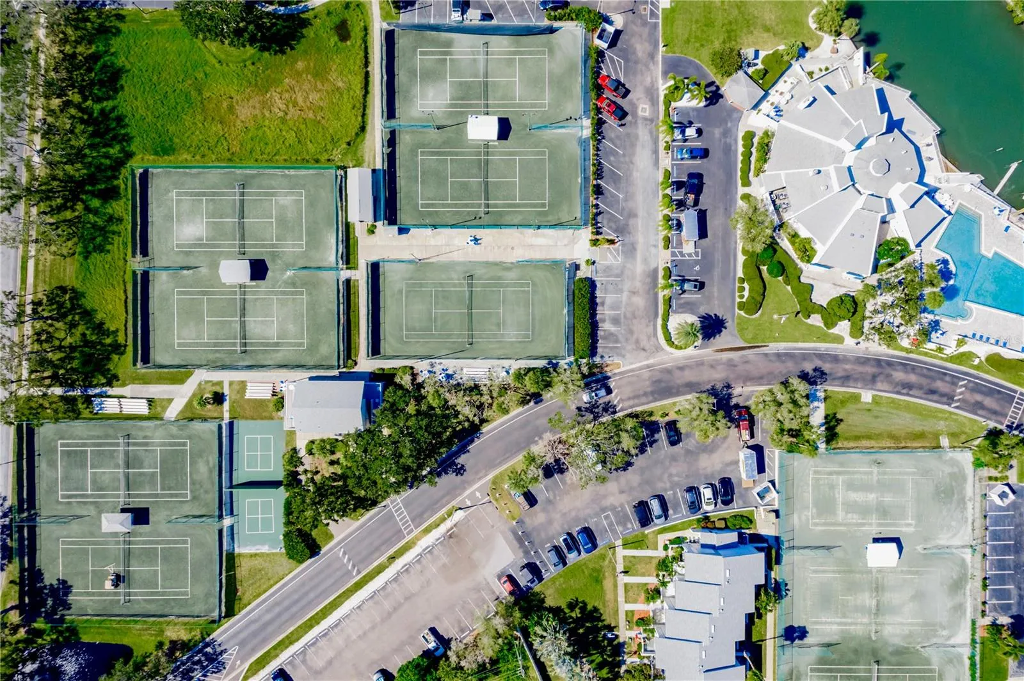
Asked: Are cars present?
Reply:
Yes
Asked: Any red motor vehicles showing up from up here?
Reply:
Yes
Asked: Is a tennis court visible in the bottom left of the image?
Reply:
Yes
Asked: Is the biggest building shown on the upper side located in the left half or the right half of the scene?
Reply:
right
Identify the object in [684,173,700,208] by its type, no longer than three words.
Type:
vehicle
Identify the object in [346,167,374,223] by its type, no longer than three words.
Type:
shed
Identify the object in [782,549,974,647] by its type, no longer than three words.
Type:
tennis court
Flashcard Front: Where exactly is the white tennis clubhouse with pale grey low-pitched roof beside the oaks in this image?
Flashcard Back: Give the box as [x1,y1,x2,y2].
[282,382,387,432]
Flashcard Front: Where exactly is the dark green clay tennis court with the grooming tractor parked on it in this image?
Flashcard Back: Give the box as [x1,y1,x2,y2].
[25,519,223,616]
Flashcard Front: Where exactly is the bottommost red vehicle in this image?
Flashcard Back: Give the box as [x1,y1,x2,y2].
[498,573,517,596]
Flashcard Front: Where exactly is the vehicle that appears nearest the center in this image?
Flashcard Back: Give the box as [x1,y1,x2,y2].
[581,385,610,403]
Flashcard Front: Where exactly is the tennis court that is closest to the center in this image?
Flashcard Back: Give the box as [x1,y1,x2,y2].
[370,261,564,359]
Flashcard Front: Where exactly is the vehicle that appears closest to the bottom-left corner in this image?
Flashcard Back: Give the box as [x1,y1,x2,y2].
[107,567,121,586]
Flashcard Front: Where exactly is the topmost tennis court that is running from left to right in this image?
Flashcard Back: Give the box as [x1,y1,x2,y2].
[385,32,581,128]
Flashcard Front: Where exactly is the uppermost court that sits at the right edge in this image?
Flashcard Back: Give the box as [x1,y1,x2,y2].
[782,450,974,549]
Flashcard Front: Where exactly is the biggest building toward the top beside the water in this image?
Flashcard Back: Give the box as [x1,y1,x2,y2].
[752,47,947,279]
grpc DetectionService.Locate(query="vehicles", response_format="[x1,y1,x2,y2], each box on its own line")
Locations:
[684,173,700,208]
[736,409,752,442]
[676,146,704,160]
[685,487,700,514]
[498,573,517,596]
[419,628,445,657]
[598,73,628,100]
[512,490,532,514]
[576,527,593,553]
[635,501,649,527]
[518,564,538,586]
[450,0,462,21]
[581,385,610,403]
[719,478,734,505]
[701,484,715,510]
[674,127,699,139]
[676,281,700,291]
[107,567,121,586]
[666,420,679,446]
[597,96,627,123]
[560,533,577,558]
[468,9,481,22]
[374,667,393,681]
[649,496,665,523]
[546,545,564,570]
